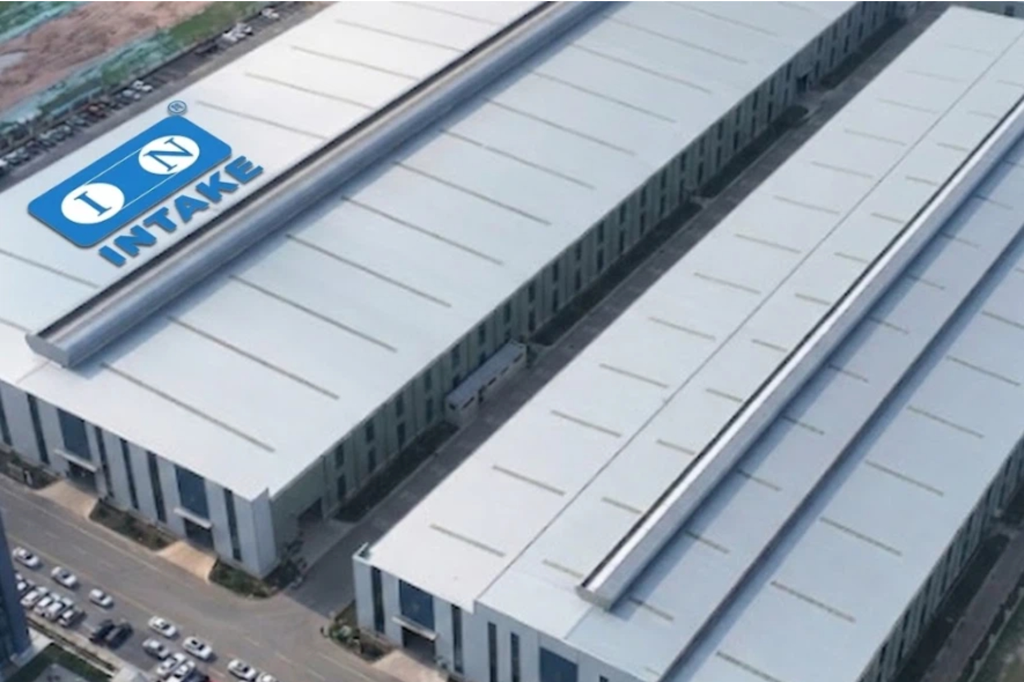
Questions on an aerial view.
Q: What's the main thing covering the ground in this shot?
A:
buildings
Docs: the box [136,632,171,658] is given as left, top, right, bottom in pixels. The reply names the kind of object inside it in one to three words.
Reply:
car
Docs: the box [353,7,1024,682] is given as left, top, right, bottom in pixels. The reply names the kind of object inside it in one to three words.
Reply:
building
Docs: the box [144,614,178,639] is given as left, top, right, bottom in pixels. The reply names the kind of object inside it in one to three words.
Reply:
car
